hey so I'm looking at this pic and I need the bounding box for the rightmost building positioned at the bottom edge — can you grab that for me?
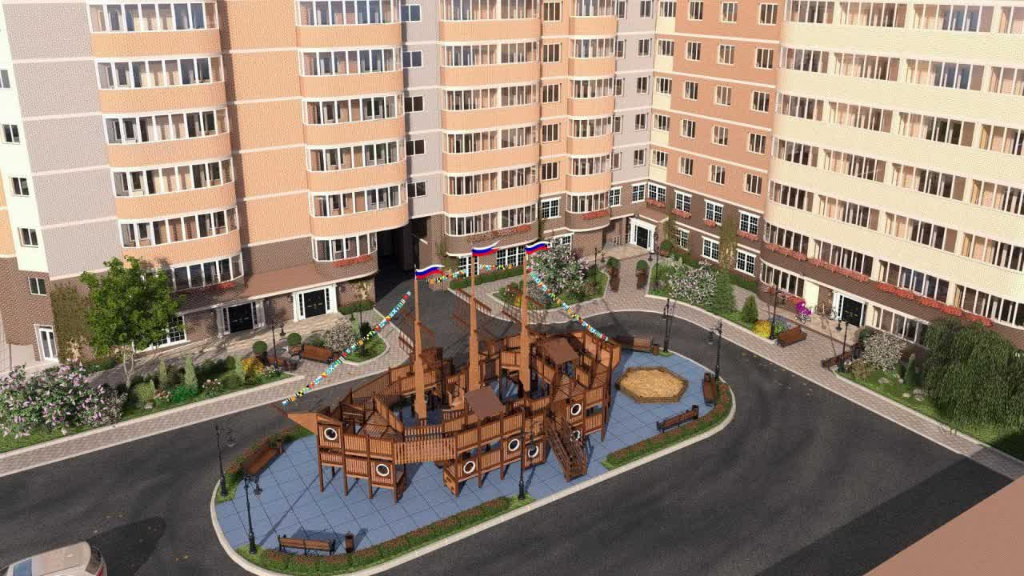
[865,494,1024,576]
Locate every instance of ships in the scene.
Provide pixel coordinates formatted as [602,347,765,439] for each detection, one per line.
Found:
[272,238,618,502]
